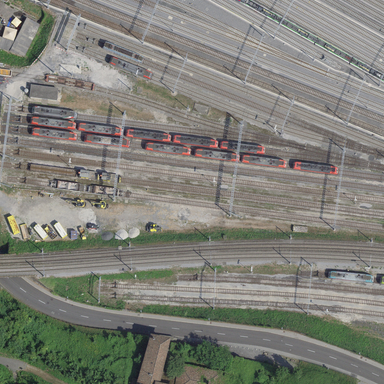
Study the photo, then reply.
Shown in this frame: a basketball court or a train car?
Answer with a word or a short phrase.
train car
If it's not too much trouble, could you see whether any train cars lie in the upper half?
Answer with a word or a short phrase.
Yes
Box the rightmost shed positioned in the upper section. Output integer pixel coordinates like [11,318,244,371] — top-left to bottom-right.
[30,82,58,100]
